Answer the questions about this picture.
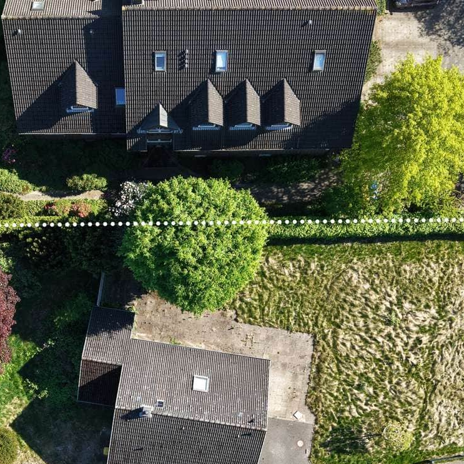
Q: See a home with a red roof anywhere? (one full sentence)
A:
No, I can't see a single home with a red roof in this photo.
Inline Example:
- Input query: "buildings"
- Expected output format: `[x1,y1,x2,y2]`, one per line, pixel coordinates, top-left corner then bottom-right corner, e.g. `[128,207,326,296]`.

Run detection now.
[77,305,273,464]
[0,0,378,184]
